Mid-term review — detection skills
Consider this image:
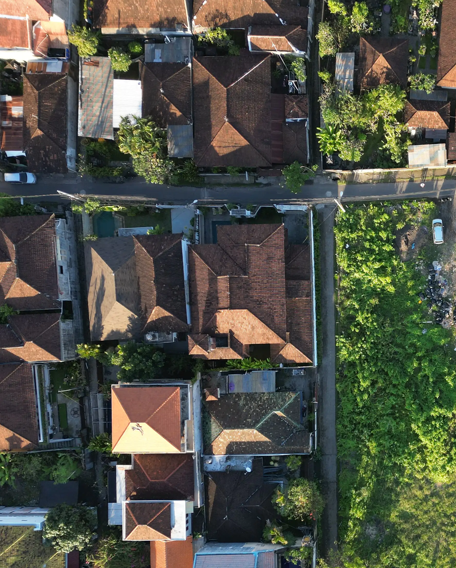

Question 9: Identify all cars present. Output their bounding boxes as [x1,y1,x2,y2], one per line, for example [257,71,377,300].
[432,217,444,243]
[2,170,35,183]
